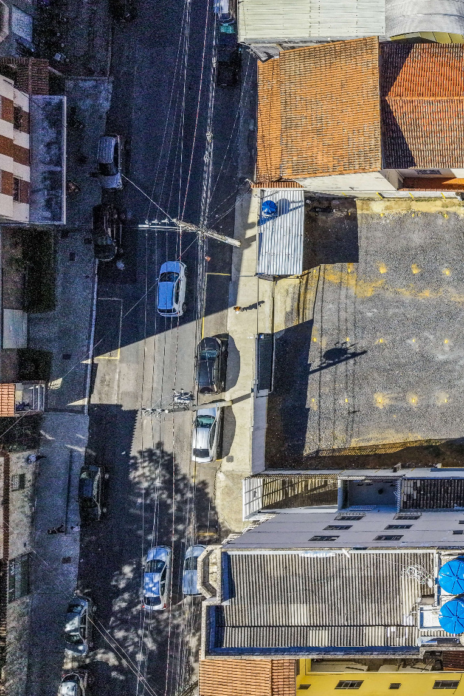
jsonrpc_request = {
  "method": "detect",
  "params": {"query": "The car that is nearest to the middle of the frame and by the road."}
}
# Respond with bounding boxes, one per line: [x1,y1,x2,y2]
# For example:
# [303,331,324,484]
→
[200,335,230,395]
